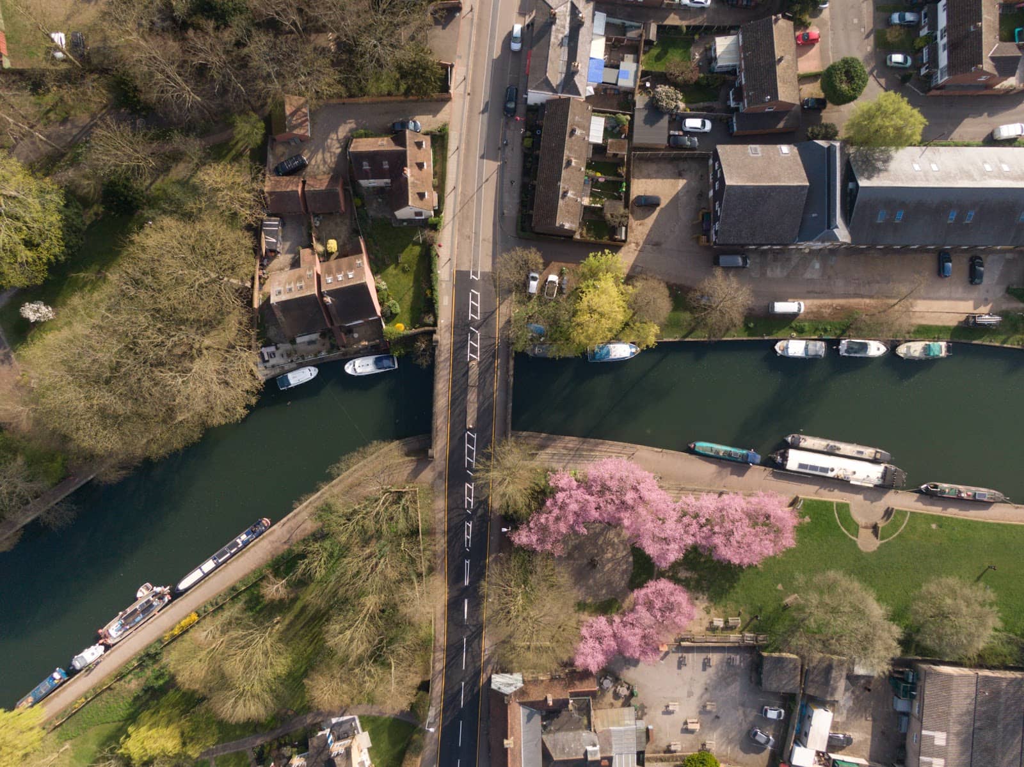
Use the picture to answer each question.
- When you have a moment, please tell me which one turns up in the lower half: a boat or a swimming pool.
boat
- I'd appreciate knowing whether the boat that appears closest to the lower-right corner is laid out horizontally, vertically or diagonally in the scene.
horizontally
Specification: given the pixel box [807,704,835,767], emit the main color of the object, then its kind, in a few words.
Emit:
white truck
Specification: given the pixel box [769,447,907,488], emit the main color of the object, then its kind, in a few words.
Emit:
white vessel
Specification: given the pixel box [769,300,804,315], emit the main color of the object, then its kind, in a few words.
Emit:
white vehicle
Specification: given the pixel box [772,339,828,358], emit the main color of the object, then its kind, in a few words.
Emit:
white boat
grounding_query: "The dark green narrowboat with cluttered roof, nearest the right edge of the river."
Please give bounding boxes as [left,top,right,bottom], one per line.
[919,482,1006,503]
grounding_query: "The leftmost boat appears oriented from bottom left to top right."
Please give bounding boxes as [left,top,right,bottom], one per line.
[19,666,72,701]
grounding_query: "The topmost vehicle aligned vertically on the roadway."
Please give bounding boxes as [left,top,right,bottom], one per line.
[509,22,523,52]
